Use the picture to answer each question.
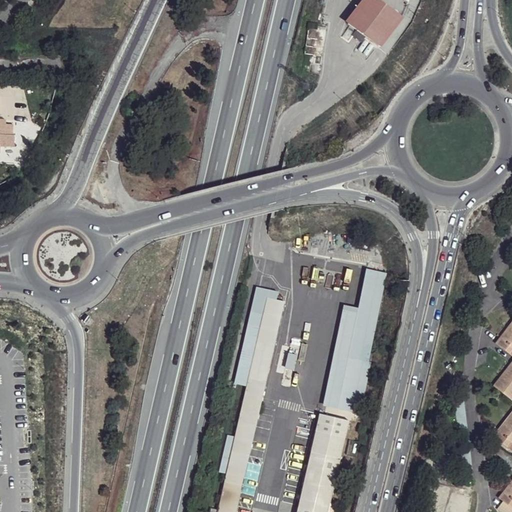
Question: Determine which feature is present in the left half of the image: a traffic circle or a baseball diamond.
traffic circle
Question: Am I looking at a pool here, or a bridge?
bridge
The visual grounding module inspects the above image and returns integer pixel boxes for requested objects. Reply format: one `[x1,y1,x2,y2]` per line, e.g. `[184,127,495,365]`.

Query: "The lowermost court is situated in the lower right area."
[434,486,470,512]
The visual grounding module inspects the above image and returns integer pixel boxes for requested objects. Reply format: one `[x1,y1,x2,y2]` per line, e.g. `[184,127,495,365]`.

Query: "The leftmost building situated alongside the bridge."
[216,286,286,512]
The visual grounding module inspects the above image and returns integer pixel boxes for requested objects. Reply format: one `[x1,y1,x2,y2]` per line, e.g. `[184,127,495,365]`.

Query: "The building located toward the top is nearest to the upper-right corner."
[348,0,404,46]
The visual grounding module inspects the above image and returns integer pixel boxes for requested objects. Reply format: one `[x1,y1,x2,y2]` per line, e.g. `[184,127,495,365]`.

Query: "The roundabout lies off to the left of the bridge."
[14,206,112,304]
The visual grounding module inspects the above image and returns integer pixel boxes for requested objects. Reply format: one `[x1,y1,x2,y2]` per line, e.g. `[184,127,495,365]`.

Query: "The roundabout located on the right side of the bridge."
[385,72,512,208]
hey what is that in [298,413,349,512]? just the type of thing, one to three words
building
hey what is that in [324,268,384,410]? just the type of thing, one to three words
building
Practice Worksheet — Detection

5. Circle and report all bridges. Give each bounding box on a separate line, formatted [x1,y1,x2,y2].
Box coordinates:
[166,166,306,238]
